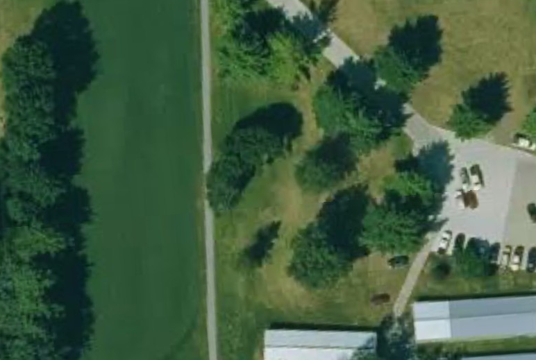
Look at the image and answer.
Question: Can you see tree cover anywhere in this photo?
Yes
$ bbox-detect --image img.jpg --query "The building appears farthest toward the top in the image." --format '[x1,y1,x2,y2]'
[412,292,536,342]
